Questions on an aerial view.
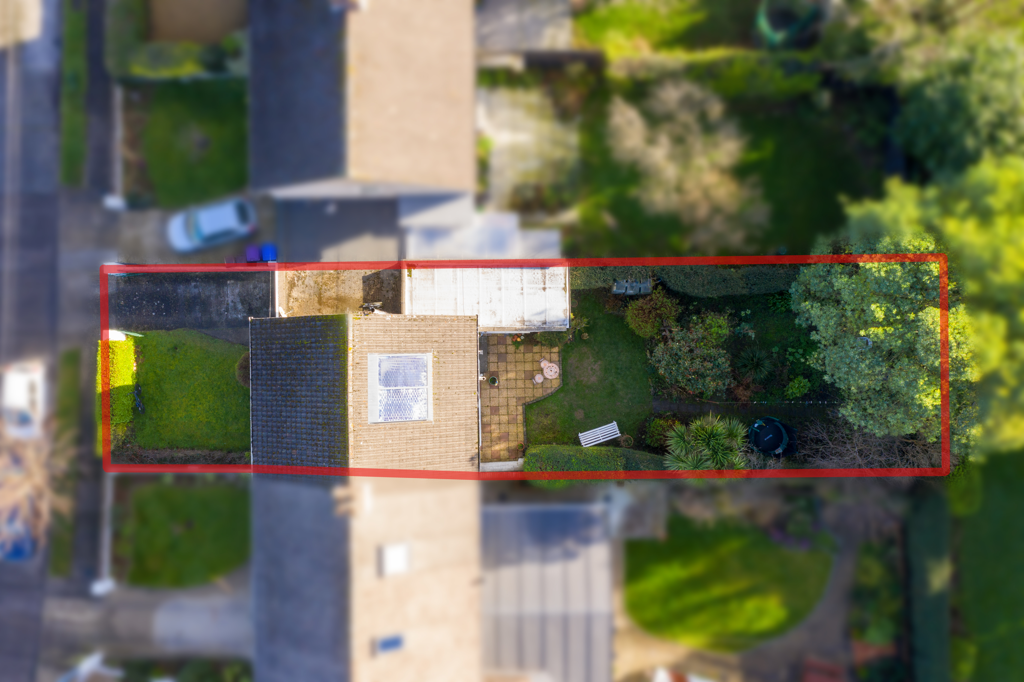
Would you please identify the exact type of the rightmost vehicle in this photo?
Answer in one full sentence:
I'd say the rightmost vehicle is a car.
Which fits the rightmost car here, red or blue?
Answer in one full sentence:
The rightmost car looks blue in the image.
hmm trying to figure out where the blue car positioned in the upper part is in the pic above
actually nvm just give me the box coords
[164,199,254,249]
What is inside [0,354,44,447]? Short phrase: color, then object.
white van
